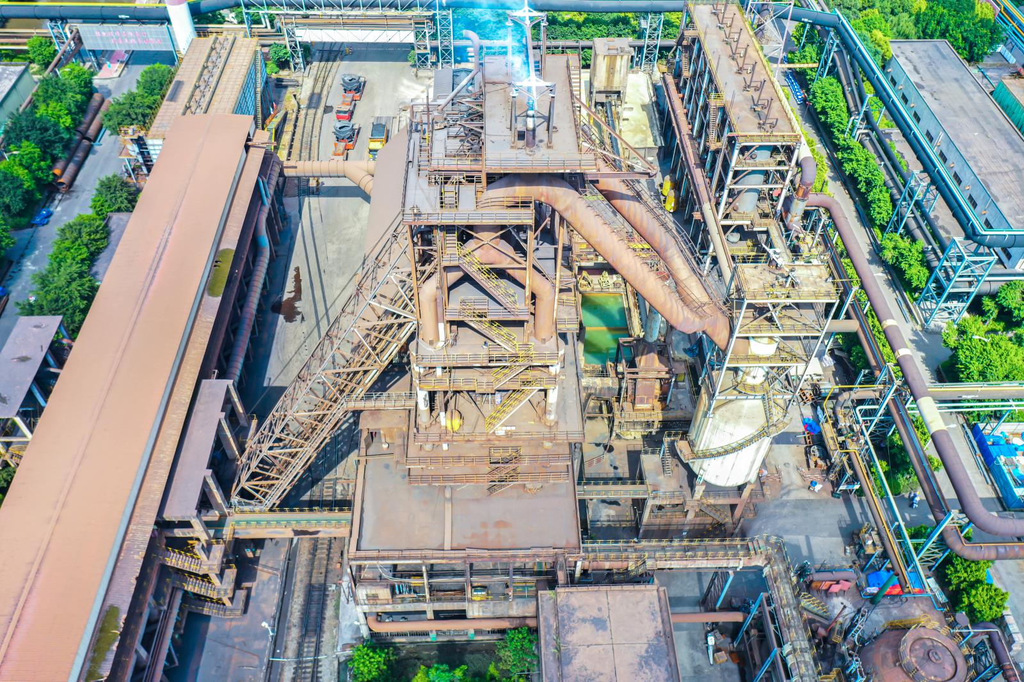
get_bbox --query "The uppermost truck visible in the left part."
[331,63,368,112]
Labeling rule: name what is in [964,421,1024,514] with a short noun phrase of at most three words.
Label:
building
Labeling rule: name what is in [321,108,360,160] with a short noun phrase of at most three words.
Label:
truck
